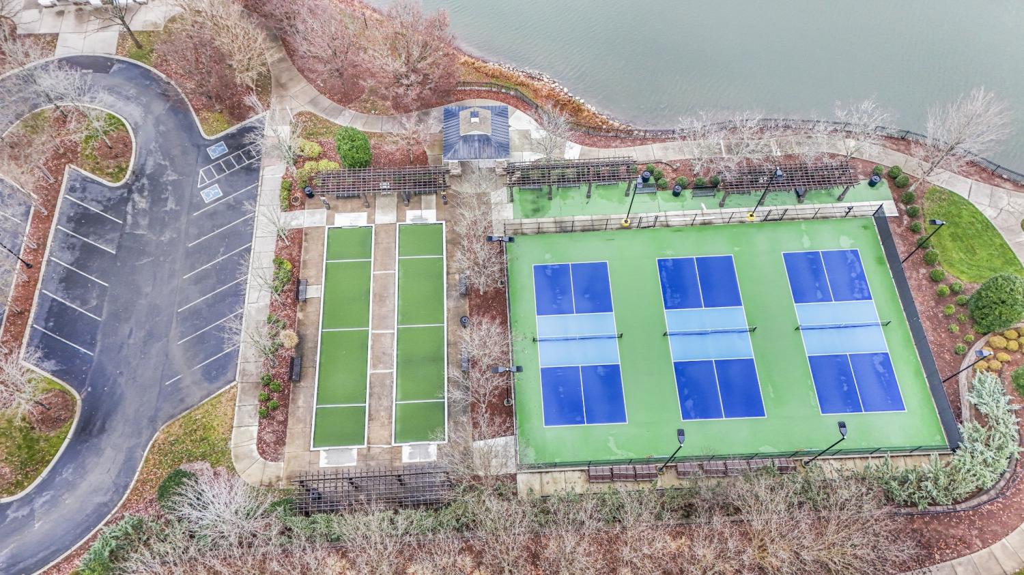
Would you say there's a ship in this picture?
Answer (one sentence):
No, the photo shows no ship.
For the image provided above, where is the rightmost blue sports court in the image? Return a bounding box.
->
[782,248,906,414]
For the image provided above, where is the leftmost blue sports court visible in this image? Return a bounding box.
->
[533,260,627,428]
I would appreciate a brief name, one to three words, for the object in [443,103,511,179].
building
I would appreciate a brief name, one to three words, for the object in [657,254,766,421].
sports court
